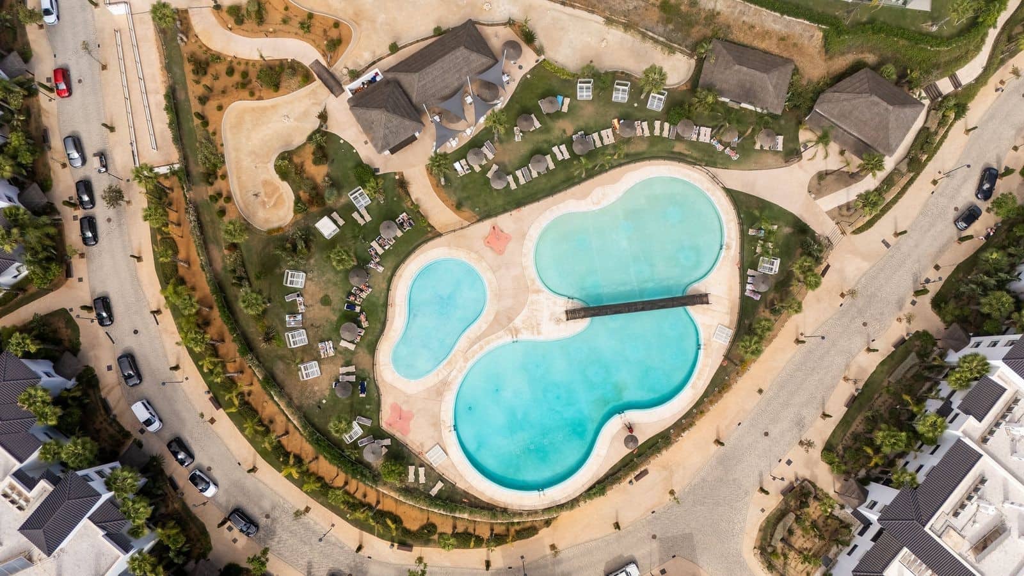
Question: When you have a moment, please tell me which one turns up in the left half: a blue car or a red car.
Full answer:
What appears in the left half is a red car.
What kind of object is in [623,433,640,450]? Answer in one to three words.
umbrella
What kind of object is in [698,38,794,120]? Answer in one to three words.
shed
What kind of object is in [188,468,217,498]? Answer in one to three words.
car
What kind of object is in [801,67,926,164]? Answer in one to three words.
shed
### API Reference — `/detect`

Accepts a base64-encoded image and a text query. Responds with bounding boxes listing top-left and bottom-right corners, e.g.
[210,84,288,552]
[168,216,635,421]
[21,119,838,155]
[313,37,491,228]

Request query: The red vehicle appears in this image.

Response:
[53,68,72,99]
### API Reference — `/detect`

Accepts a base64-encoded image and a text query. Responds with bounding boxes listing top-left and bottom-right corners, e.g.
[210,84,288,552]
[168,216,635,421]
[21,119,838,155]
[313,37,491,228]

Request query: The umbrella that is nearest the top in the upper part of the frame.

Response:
[501,39,523,61]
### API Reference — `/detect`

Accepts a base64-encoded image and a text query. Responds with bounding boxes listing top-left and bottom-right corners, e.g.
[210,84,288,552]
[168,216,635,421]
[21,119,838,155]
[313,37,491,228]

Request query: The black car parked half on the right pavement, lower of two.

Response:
[954,203,981,232]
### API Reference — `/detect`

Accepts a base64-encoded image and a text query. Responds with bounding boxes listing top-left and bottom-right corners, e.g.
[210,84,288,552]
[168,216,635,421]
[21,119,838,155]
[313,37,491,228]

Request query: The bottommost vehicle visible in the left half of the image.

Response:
[228,508,258,536]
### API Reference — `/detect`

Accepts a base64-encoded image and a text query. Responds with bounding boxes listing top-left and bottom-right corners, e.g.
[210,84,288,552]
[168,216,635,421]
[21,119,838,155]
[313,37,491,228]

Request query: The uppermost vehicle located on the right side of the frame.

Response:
[975,167,996,200]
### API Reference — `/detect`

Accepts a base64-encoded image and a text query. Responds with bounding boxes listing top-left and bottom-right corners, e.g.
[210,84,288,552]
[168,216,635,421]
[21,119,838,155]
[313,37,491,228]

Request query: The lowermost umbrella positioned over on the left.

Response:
[361,441,384,465]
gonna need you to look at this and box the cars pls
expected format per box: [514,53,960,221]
[80,215,99,246]
[167,435,194,468]
[53,68,72,99]
[228,508,258,536]
[975,167,996,200]
[66,135,86,167]
[93,295,113,327]
[41,0,60,22]
[120,354,141,386]
[954,203,981,232]
[77,179,96,210]
[130,398,160,432]
[188,468,217,498]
